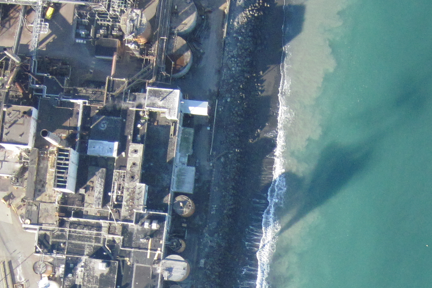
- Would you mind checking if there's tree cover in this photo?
No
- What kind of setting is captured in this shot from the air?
industrial area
